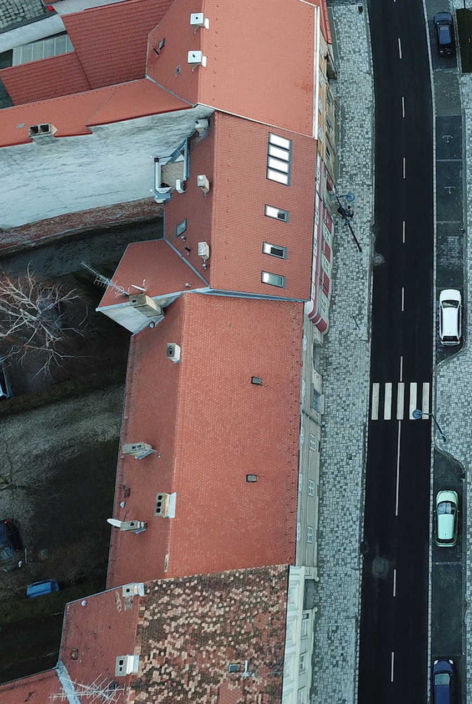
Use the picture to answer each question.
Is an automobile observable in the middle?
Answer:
No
